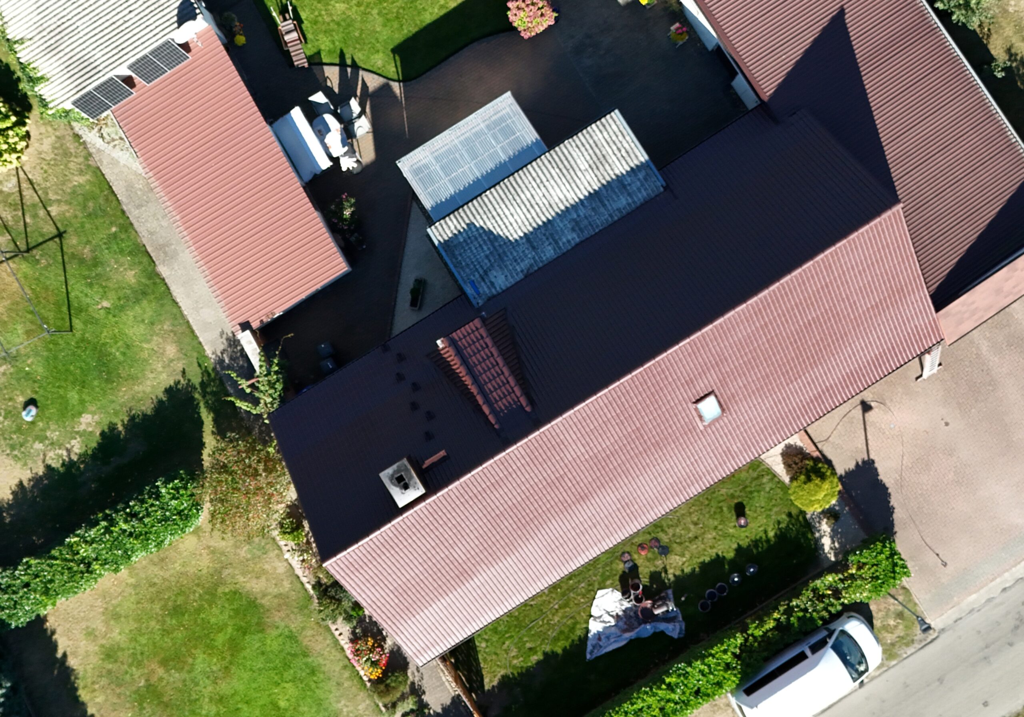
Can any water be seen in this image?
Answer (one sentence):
No, there's no water in this view.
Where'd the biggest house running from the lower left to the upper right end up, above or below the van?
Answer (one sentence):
The biggest house running from the lower left to the upper right is found above the van in the photo.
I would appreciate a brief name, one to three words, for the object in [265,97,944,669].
house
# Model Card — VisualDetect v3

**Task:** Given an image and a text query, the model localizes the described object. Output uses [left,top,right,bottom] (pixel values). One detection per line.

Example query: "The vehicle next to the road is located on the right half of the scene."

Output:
[734,620,885,717]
